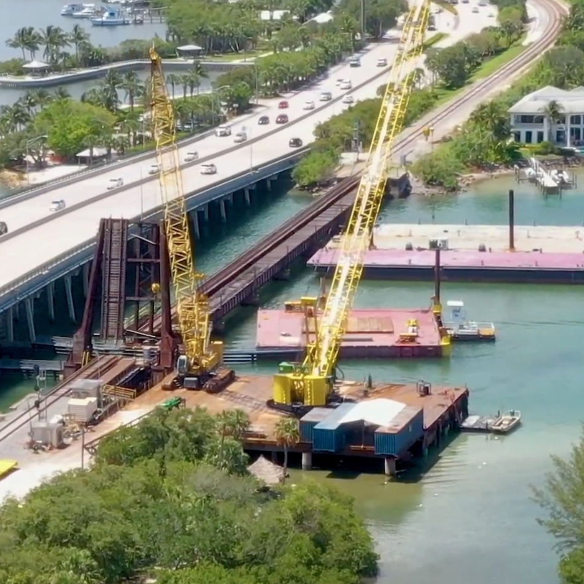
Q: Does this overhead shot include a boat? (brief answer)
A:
Yes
